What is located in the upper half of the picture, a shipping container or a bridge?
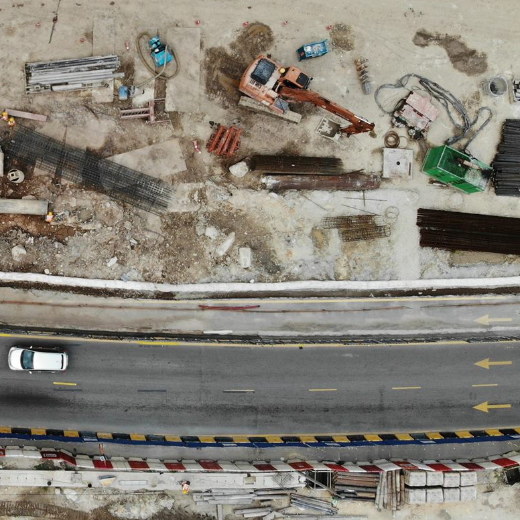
shipping container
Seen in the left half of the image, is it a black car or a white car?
white car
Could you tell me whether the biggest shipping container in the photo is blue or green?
green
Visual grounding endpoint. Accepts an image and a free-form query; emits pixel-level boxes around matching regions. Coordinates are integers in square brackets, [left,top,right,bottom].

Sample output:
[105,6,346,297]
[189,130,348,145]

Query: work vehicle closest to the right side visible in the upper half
[233,53,377,140]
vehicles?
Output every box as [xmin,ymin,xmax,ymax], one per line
[233,53,377,140]
[7,344,69,375]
